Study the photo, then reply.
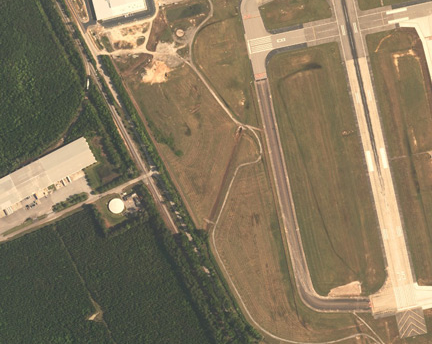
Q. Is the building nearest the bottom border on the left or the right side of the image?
left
